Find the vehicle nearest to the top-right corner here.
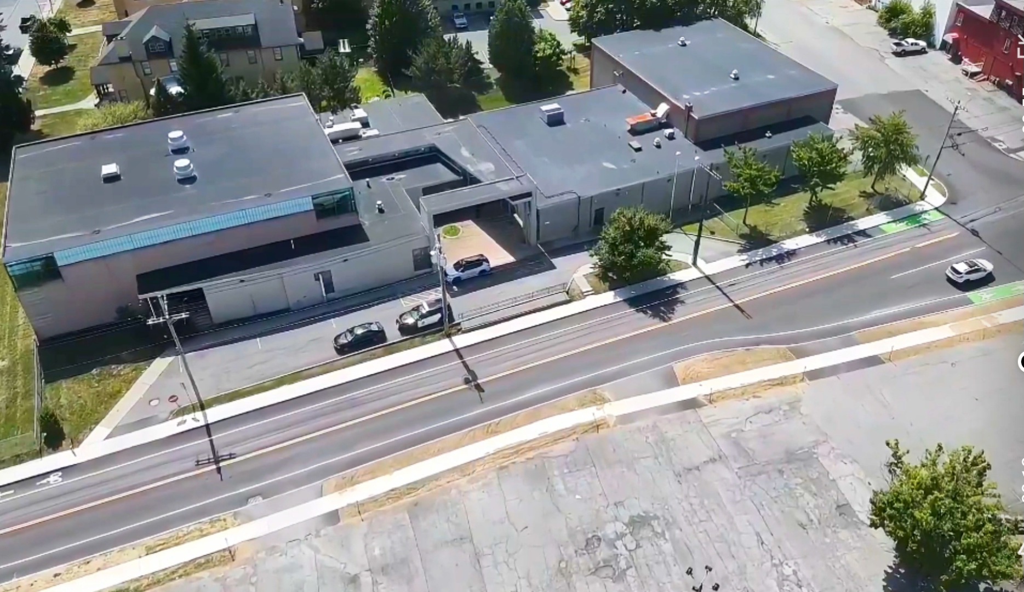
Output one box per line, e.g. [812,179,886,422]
[890,38,931,56]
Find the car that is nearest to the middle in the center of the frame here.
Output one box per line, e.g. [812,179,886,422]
[444,250,490,280]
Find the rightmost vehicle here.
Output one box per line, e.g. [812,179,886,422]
[945,257,997,284]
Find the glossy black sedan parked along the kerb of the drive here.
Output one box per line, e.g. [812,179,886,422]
[331,316,387,349]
